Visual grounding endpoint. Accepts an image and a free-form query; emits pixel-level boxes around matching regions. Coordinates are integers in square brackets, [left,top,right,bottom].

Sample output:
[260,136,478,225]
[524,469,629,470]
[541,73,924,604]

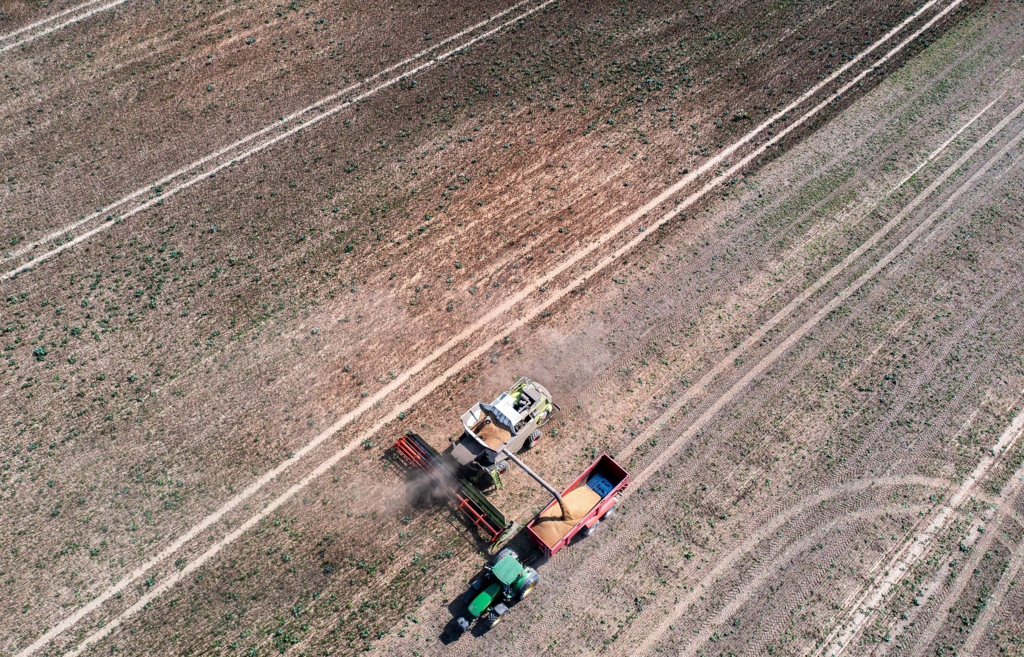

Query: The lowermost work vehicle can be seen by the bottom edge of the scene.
[456,546,539,634]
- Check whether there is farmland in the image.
Yes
